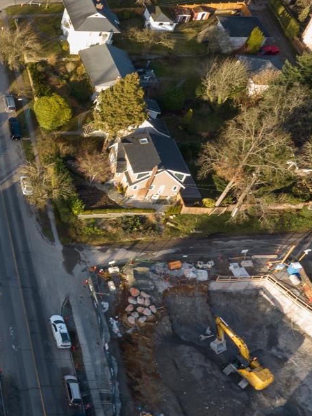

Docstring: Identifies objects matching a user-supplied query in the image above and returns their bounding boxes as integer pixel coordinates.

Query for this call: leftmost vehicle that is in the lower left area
[51,317,74,353]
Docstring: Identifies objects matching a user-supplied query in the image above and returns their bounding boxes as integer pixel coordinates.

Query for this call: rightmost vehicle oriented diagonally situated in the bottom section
[197,330,285,394]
